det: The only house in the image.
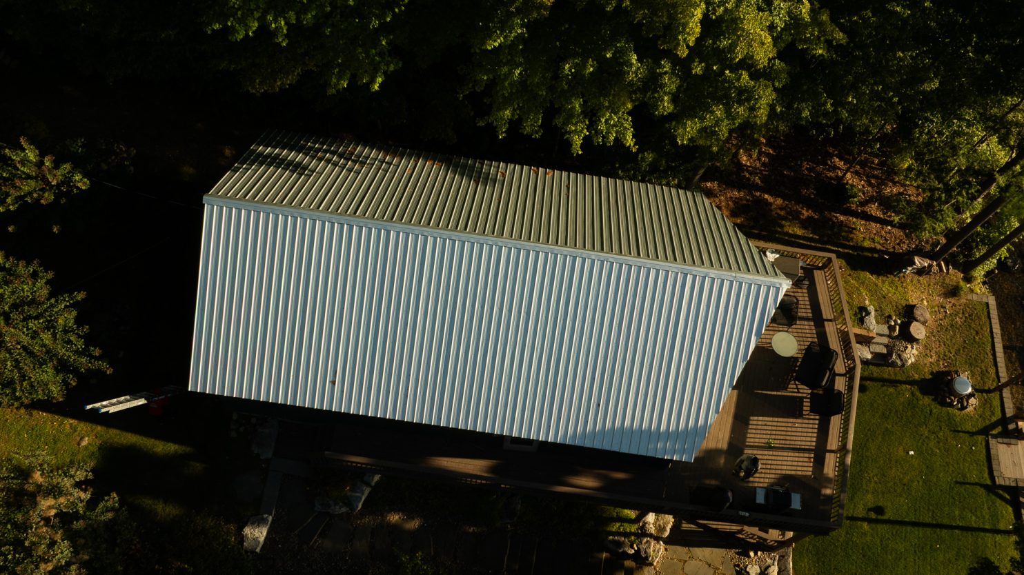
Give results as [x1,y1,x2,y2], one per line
[188,128,794,462]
